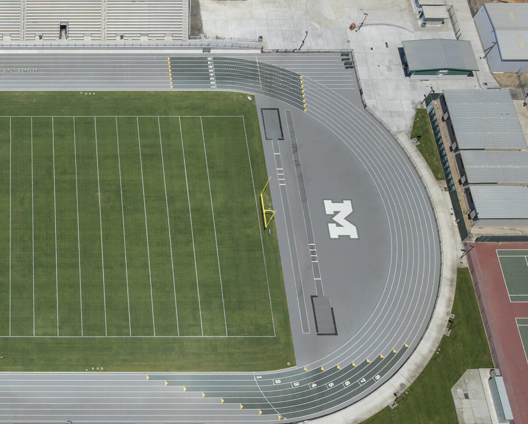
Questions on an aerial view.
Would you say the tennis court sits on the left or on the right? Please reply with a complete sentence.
The tennis court appears in the right half of the scene.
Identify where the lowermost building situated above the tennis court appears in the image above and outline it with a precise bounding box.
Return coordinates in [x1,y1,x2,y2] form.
[464,185,528,226]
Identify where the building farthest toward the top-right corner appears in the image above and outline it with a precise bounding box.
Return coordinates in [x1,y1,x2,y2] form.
[474,2,528,72]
